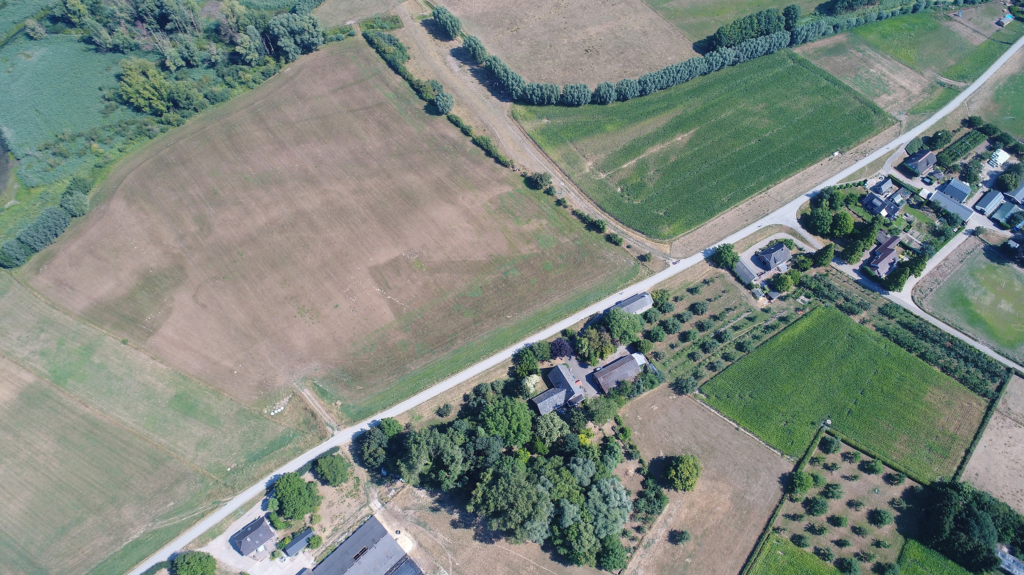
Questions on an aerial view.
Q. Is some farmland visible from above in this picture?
Yes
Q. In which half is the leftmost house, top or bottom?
bottom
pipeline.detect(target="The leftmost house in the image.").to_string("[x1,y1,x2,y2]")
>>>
[233,515,277,558]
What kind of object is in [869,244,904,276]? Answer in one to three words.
house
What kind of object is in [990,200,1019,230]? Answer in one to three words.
shed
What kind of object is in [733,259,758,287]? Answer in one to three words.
building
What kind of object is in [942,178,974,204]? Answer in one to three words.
barn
